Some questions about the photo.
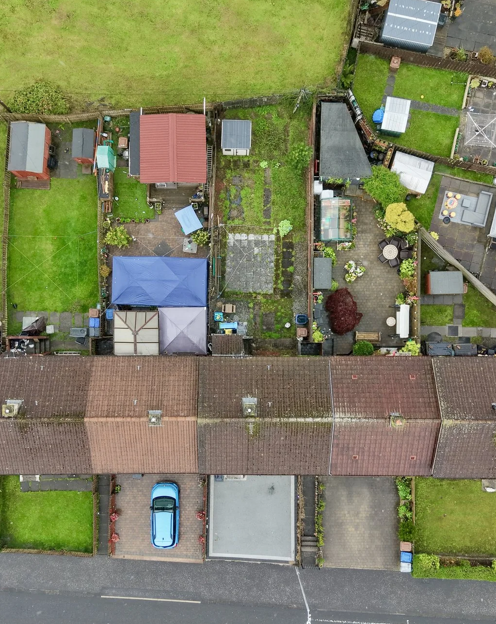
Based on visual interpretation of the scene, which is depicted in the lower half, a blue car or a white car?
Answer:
blue car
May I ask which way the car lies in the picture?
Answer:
vertically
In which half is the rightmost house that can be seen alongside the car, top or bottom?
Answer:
bottom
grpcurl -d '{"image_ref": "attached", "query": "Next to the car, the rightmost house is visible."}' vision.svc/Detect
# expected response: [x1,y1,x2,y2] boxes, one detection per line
[198,354,336,477]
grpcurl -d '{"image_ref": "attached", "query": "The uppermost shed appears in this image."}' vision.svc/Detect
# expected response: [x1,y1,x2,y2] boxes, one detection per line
[379,0,442,54]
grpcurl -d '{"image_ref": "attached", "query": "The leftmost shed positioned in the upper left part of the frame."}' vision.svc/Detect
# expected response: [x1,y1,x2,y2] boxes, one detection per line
[8,120,51,176]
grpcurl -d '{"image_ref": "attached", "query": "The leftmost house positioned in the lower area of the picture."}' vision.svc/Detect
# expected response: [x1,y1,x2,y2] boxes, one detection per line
[0,353,92,476]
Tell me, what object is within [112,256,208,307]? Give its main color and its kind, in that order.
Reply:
blue gazebo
